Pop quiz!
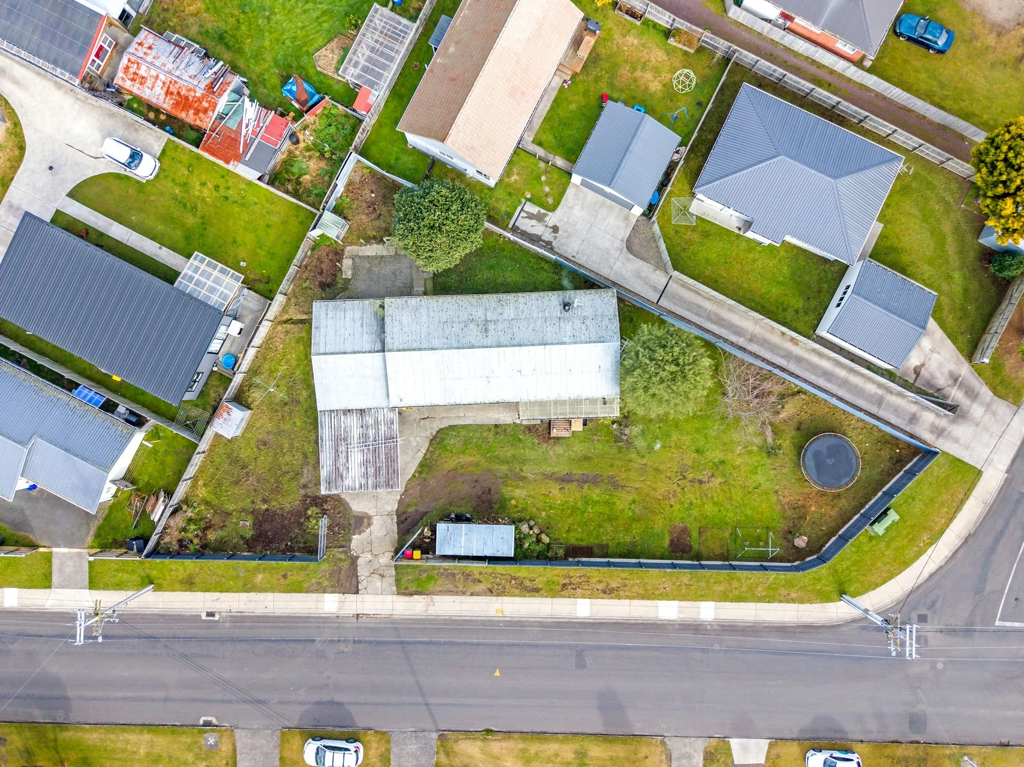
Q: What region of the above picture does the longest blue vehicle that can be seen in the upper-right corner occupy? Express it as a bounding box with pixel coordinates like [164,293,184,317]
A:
[890,15,955,54]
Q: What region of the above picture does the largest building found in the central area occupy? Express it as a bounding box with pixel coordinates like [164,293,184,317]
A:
[311,288,621,494]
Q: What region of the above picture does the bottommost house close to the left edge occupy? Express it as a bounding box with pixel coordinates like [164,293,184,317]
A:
[0,349,155,515]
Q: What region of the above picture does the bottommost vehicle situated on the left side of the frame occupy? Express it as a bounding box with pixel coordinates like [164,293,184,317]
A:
[304,736,365,767]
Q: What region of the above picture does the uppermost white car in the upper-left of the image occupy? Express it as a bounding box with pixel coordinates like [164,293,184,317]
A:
[98,134,165,184]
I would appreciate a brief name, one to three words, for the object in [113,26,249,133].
shed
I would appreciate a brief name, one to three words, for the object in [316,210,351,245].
shed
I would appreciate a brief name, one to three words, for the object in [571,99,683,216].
building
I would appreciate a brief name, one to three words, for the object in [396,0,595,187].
house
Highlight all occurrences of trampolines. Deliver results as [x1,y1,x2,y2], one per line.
[797,432,860,491]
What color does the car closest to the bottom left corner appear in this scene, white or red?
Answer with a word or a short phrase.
white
